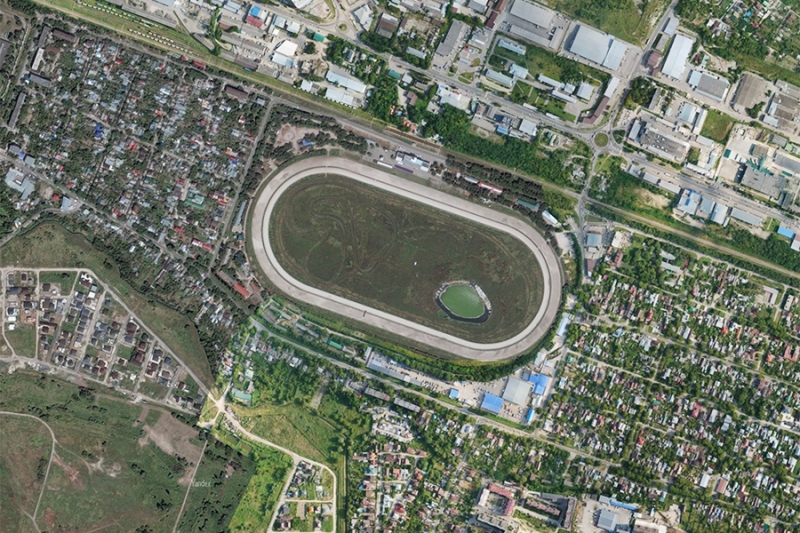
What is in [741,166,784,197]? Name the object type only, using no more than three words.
building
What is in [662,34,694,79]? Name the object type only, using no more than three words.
building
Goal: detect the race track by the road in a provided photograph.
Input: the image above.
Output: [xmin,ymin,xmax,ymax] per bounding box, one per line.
[252,156,562,362]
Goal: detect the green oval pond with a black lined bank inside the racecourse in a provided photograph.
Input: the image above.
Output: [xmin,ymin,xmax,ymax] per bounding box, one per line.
[435,280,492,324]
